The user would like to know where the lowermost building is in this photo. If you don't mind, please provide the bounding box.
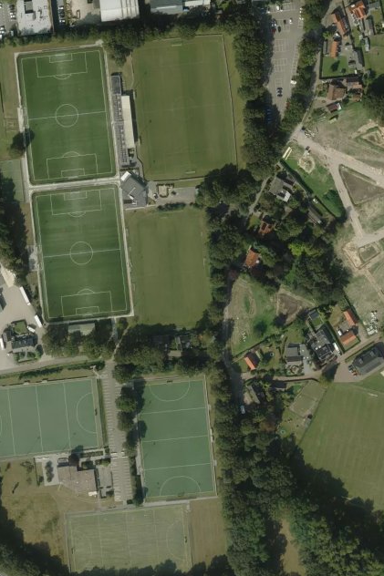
[58,466,96,495]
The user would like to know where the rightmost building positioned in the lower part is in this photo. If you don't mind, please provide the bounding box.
[352,347,384,376]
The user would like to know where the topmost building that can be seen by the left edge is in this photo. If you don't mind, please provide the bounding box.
[17,0,52,35]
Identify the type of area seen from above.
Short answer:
sports ground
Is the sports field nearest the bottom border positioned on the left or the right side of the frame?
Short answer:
left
